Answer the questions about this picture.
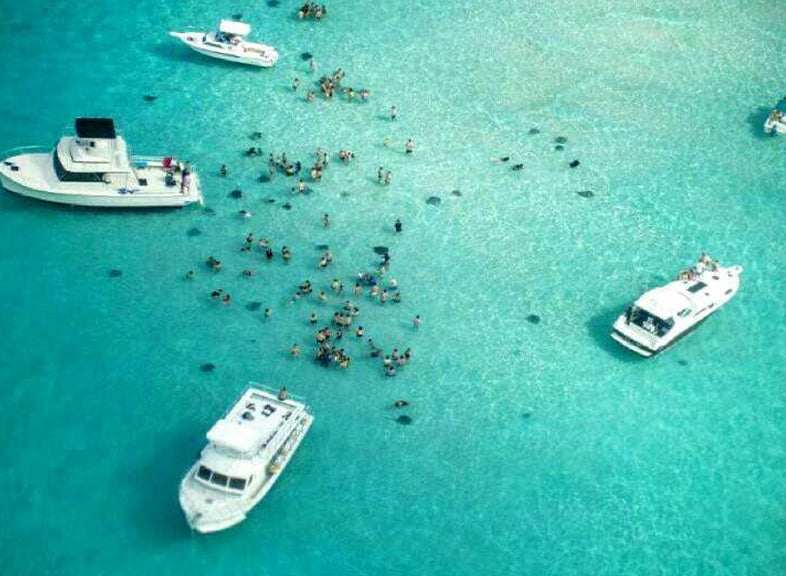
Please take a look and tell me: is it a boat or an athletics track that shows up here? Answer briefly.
boat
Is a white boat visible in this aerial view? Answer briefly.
Yes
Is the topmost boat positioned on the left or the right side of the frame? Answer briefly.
left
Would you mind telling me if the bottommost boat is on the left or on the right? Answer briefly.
left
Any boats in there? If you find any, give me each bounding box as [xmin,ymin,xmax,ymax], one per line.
[166,22,280,71]
[0,121,210,207]
[610,253,748,363]
[764,90,786,141]
[183,378,316,538]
